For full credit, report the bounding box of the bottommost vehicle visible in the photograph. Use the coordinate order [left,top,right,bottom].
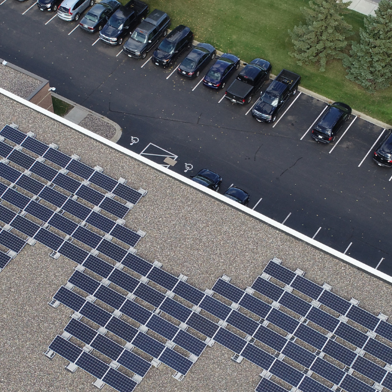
[222,183,250,205]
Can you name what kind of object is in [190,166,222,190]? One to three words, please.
car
